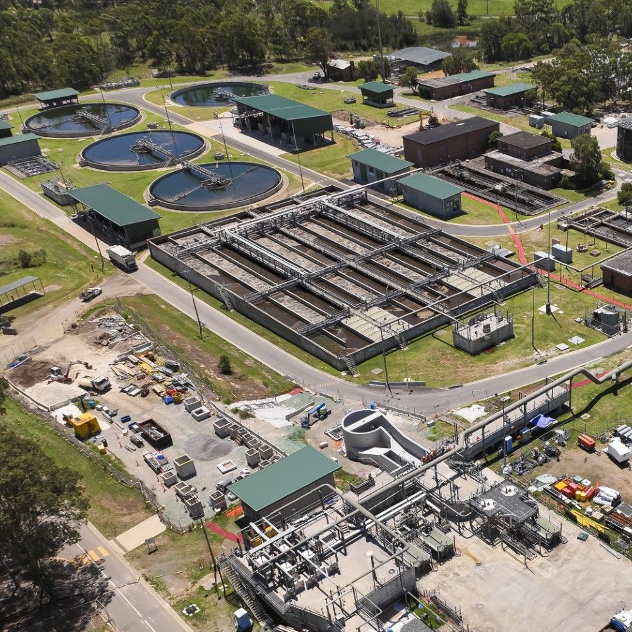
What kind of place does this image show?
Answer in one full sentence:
This looks like an industrial area.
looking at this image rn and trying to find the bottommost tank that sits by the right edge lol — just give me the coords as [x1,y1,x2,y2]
[581,294,632,333]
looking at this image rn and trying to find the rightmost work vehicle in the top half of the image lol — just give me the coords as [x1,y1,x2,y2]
[412,103,443,125]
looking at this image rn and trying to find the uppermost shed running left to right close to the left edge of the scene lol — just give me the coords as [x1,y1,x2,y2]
[28,86,82,108]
